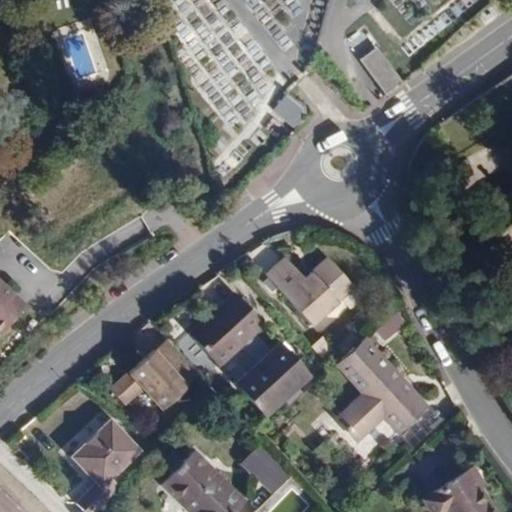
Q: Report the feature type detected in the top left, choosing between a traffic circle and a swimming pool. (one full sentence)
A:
Looking in the top left, you will find a swimming pool.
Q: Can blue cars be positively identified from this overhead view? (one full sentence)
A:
No, I can see no blue car in this picture.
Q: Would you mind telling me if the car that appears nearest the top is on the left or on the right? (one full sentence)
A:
The car that appears nearest the top sits on the right side.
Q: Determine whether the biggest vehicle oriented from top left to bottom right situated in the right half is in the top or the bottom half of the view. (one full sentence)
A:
It is in the bottom half that the biggest vehicle oriented from top left to bottom right situated in the right half appears.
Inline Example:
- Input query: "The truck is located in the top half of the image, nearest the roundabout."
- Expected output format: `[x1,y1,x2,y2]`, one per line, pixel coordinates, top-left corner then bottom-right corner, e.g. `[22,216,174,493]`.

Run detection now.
[318,130,350,154]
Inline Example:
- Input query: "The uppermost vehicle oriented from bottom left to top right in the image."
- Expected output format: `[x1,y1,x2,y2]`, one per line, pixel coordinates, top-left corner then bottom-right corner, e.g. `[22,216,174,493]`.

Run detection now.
[384,99,410,118]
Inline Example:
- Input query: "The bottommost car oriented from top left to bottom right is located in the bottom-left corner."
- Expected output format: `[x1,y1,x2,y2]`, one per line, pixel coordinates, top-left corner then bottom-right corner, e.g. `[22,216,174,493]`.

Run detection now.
[34,428,54,448]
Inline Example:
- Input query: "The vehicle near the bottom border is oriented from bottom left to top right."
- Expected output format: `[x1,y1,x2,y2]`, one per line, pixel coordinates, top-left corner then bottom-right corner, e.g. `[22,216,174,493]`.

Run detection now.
[250,488,270,506]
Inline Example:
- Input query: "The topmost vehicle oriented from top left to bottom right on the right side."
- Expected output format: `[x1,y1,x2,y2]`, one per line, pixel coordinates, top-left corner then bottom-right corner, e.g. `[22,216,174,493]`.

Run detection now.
[415,310,433,332]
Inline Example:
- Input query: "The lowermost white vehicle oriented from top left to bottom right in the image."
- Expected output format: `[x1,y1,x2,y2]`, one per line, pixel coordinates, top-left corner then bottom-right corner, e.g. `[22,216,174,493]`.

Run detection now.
[432,340,454,367]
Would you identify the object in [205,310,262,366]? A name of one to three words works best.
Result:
house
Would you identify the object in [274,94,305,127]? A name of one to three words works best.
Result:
building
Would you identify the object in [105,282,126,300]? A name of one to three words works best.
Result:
car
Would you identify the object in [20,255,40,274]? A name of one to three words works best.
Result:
car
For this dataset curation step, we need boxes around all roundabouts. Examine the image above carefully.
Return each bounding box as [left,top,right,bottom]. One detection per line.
[321,146,358,182]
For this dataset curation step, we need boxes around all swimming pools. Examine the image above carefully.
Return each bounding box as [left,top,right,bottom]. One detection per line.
[62,29,109,82]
